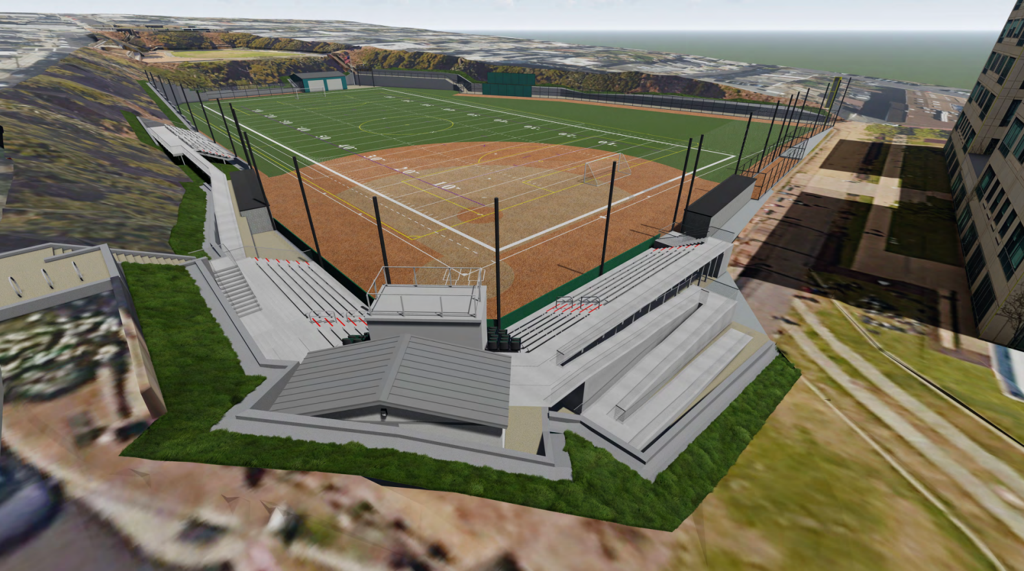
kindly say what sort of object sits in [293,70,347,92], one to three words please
shed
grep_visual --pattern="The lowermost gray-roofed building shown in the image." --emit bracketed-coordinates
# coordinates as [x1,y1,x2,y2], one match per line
[270,335,511,448]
